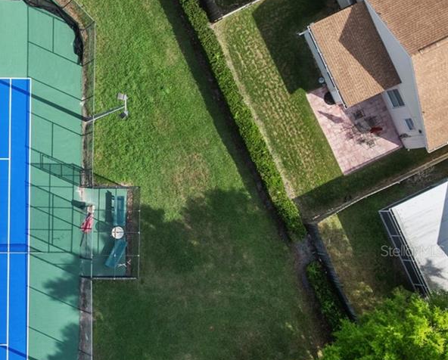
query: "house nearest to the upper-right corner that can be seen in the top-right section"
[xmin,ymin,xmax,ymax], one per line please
[285,0,448,153]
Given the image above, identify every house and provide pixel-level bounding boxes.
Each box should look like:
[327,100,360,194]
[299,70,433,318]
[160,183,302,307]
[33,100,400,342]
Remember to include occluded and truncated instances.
[379,178,448,322]
[285,0,448,153]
